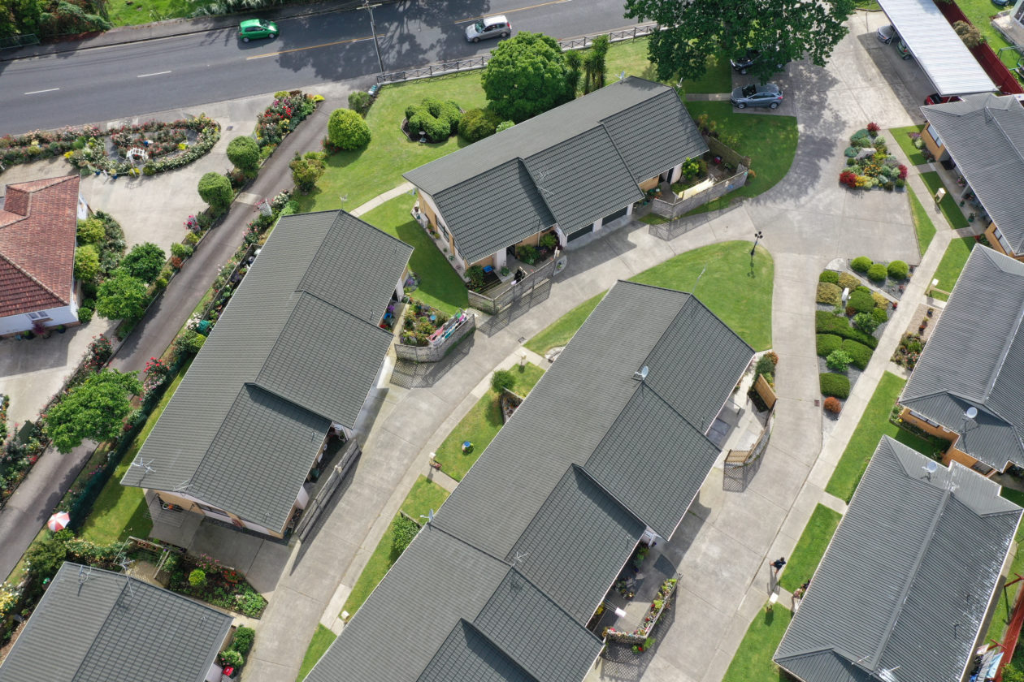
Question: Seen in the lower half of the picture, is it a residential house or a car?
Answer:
residential house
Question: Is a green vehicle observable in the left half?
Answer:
Yes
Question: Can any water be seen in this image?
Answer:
No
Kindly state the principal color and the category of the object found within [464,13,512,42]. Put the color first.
gray car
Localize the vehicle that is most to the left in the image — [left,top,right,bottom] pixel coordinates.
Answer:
[234,15,279,41]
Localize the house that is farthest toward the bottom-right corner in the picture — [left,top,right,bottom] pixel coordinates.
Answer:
[772,433,1022,682]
